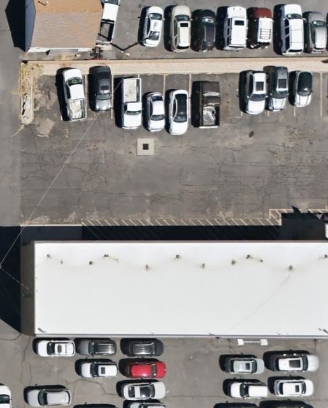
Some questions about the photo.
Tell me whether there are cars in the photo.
Yes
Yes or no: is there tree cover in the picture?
No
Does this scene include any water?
No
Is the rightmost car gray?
Yes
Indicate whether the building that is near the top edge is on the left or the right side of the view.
left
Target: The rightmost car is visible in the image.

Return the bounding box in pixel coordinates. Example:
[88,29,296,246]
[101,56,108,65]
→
[305,12,328,54]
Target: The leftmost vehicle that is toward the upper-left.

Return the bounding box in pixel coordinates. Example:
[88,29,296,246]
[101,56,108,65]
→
[62,69,89,123]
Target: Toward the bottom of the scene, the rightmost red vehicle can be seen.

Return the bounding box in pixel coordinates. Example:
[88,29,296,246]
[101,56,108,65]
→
[126,361,165,380]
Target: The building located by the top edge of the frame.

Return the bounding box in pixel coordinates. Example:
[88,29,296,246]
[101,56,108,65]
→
[26,0,102,51]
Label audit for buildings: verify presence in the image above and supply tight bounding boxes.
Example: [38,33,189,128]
[20,243,328,337]
[26,0,102,51]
